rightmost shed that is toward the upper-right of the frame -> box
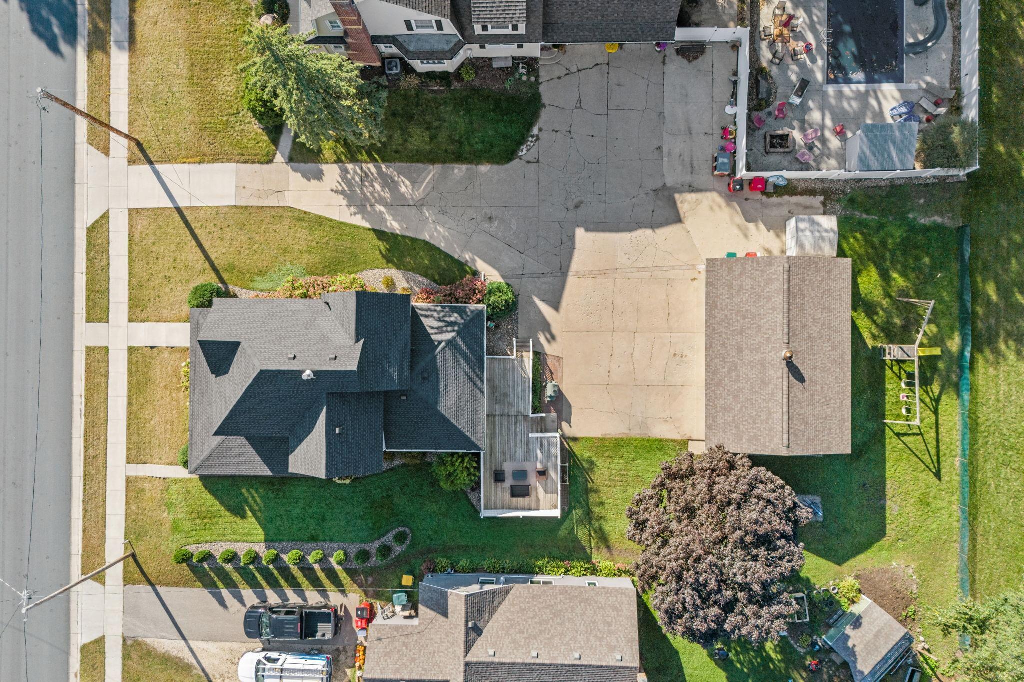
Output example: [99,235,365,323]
[847,123,917,169]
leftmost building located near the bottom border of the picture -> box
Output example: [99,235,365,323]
[363,569,642,682]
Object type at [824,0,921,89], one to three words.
swimming pool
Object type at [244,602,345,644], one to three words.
truck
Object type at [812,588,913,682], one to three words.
shed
